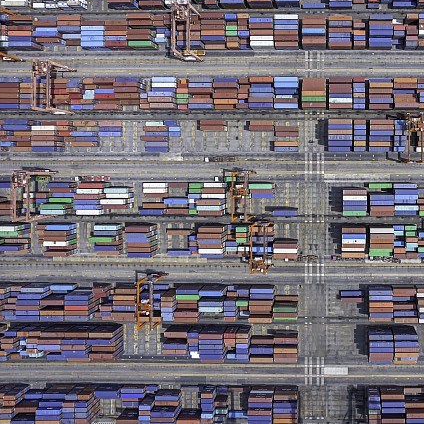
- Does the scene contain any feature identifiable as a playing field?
No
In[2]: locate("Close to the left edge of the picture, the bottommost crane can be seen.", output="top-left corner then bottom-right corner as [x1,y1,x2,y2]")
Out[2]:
[11,169,57,221]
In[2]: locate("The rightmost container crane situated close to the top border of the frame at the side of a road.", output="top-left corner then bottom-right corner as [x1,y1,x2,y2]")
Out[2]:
[171,2,205,60]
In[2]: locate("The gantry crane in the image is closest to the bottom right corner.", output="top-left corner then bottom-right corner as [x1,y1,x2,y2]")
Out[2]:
[248,217,276,274]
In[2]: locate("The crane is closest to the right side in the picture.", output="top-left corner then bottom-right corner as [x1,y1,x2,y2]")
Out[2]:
[397,113,424,163]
